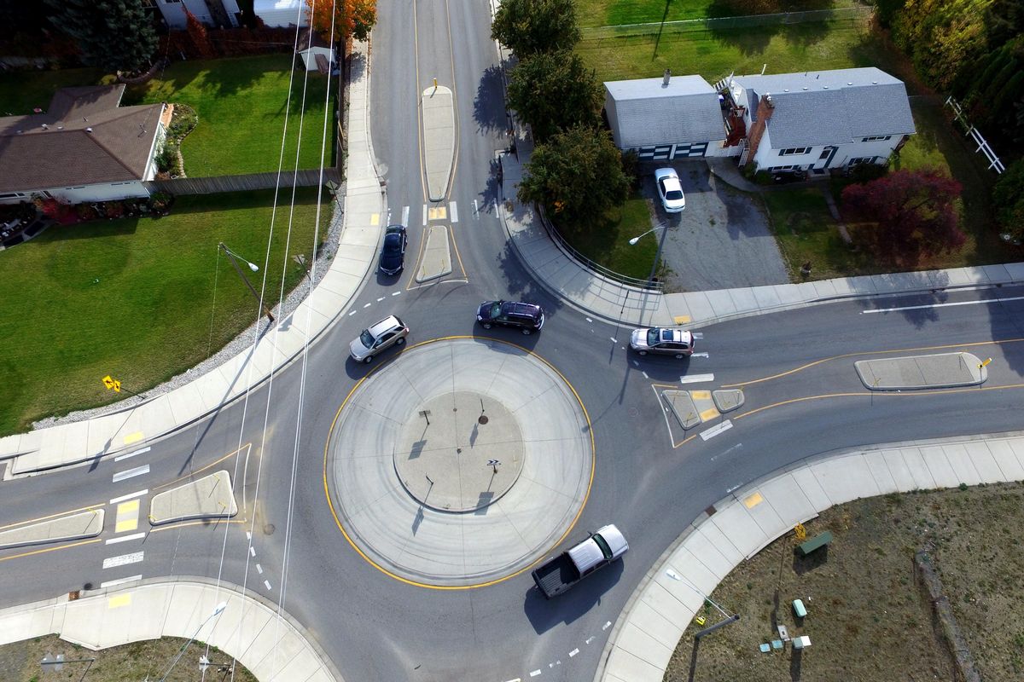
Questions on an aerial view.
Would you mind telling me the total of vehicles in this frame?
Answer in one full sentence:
I count 6 vehicles.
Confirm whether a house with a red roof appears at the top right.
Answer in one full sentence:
No, at the top right there is no house with a red roof.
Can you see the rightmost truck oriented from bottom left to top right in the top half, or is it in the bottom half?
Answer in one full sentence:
You can find the rightmost truck oriented from bottom left to top right in the bottom half.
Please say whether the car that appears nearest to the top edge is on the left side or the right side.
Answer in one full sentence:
It is on the right.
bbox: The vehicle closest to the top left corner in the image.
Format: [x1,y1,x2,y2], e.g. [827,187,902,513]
[377,229,407,282]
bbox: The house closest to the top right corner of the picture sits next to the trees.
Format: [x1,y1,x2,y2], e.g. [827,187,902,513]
[734,58,916,191]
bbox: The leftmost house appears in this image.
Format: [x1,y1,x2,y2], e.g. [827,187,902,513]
[0,83,170,207]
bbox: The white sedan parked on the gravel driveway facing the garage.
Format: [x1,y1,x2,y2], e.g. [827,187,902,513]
[652,170,686,218]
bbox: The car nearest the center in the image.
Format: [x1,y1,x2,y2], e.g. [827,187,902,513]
[477,299,546,334]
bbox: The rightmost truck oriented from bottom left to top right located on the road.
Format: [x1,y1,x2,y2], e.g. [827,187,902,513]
[531,526,629,604]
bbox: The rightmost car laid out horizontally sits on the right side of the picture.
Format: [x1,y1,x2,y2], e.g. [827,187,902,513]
[629,327,696,361]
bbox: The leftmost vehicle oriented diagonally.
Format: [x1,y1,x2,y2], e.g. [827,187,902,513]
[349,315,412,365]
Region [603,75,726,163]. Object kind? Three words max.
building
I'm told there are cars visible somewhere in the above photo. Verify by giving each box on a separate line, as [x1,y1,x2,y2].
[477,299,546,334]
[377,229,407,282]
[349,315,412,365]
[629,327,696,361]
[652,170,686,218]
